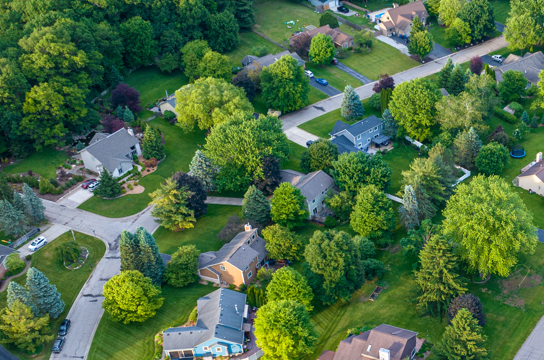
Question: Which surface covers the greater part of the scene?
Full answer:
The largest share of the image is taken up by trees.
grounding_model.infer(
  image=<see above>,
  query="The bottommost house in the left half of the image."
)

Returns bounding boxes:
[163,285,246,359]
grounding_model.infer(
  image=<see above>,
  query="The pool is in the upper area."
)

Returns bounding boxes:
[359,7,393,21]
